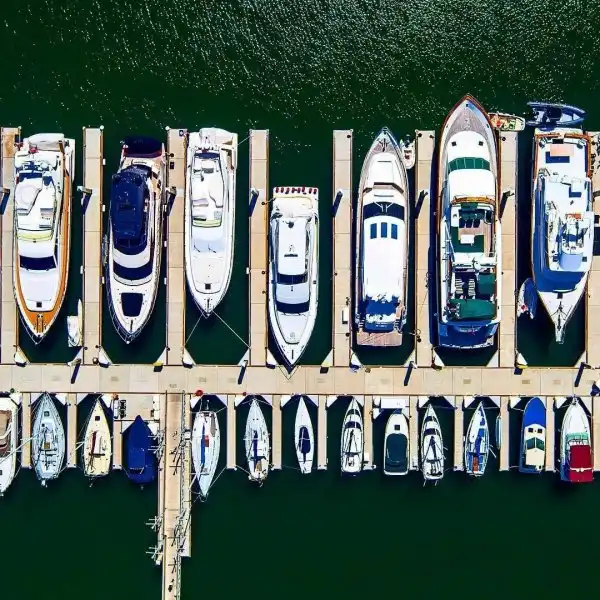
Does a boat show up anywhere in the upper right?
Yes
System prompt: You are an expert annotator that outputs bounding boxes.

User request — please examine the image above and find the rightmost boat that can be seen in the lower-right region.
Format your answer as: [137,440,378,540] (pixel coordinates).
[555,395,594,483]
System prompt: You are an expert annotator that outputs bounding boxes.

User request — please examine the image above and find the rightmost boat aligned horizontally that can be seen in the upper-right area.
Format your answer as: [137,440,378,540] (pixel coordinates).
[528,101,587,127]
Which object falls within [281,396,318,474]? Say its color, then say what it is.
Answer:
white boat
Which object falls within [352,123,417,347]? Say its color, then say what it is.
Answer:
white boat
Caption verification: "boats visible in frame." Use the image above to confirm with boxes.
[340,396,367,475]
[122,415,158,484]
[12,134,84,343]
[432,91,502,348]
[237,400,273,485]
[62,395,114,477]
[105,135,171,344]
[555,395,594,483]
[281,396,318,474]
[463,401,504,476]
[401,136,415,169]
[265,186,319,376]
[518,126,598,345]
[0,394,24,497]
[384,408,410,475]
[183,398,227,501]
[510,397,547,473]
[418,403,456,485]
[2,393,68,483]
[528,101,587,127]
[518,281,540,323]
[489,111,526,129]
[352,123,417,347]
[183,127,253,347]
